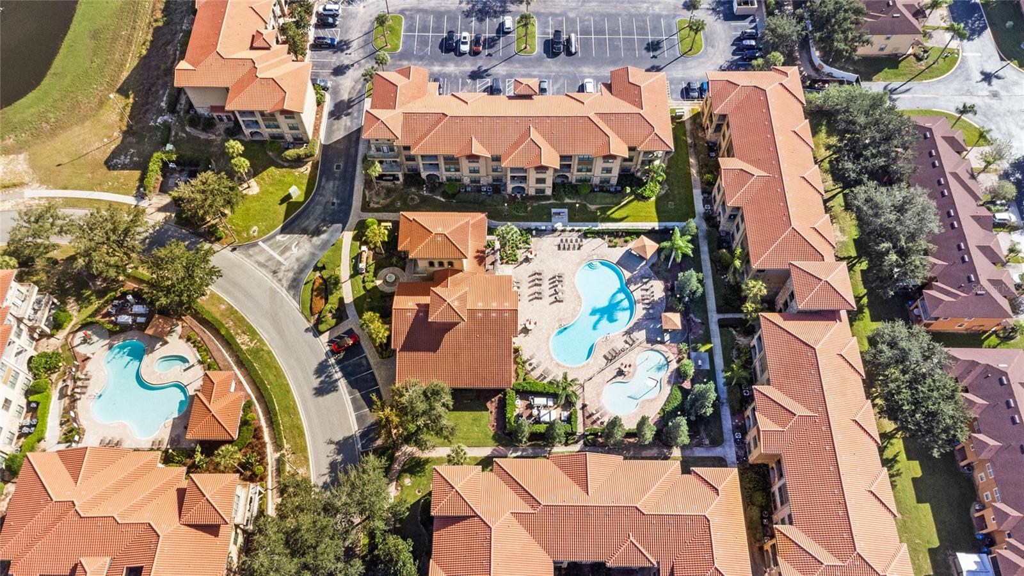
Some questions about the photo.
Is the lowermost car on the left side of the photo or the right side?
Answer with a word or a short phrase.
left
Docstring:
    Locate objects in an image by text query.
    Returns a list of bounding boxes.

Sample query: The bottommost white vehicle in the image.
[991,210,1021,225]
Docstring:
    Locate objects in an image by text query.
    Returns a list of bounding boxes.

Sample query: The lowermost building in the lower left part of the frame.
[0,446,257,576]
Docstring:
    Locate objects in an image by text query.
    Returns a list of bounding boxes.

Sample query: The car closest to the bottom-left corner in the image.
[330,333,361,354]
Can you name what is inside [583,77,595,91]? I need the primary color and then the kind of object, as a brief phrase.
white vehicle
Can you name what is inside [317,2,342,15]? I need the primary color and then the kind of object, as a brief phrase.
white vehicle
